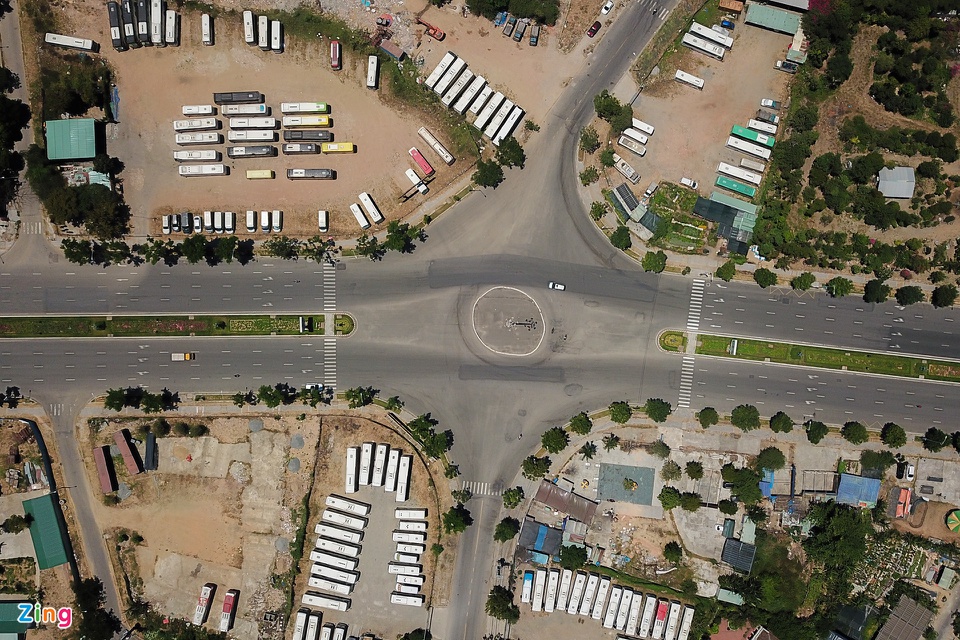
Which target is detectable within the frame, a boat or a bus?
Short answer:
bus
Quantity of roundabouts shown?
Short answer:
0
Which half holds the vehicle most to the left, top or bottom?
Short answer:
top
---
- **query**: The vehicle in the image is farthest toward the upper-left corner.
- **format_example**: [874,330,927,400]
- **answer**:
[44,33,98,52]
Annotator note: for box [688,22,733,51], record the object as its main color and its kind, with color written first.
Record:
white bus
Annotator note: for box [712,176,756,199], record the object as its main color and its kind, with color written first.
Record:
green bus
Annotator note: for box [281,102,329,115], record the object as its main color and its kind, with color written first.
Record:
white vehicle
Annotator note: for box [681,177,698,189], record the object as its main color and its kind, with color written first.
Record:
white vehicle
